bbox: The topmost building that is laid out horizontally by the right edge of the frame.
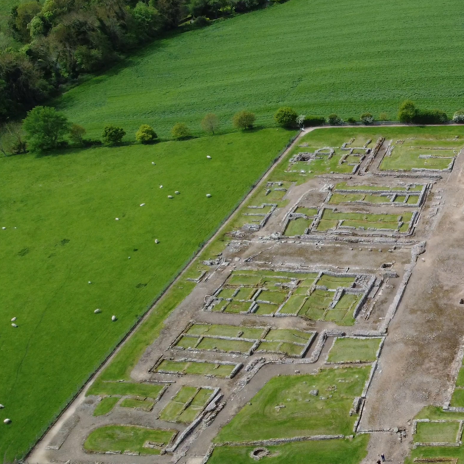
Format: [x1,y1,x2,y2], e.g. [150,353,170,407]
[381,137,463,174]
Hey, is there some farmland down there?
Yes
